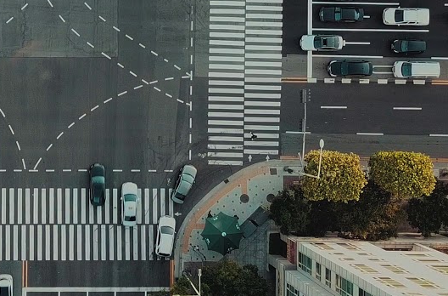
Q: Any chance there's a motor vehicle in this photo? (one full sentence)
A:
Yes, looking at the shot, I can spot a motor vehicle.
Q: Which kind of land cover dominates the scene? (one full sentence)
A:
Most of the picture is covered by paved ground.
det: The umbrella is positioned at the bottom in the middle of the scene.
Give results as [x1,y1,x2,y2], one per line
[200,209,244,255]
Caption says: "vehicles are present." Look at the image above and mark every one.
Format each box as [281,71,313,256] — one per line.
[326,58,373,79]
[298,33,345,52]
[318,5,365,24]
[155,213,177,257]
[392,59,445,80]
[381,6,430,27]
[0,273,13,296]
[120,181,140,226]
[171,163,197,205]
[87,162,106,206]
[278,167,297,173]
